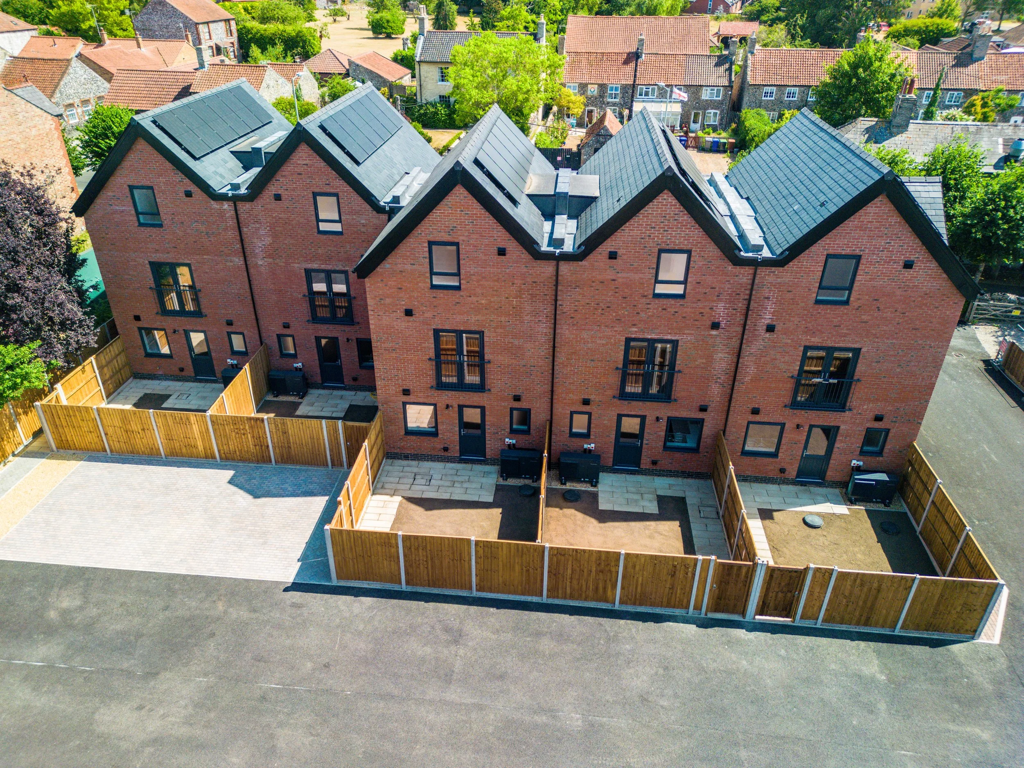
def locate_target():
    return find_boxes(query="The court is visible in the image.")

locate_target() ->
[34,254,111,351]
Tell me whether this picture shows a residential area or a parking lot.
residential area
